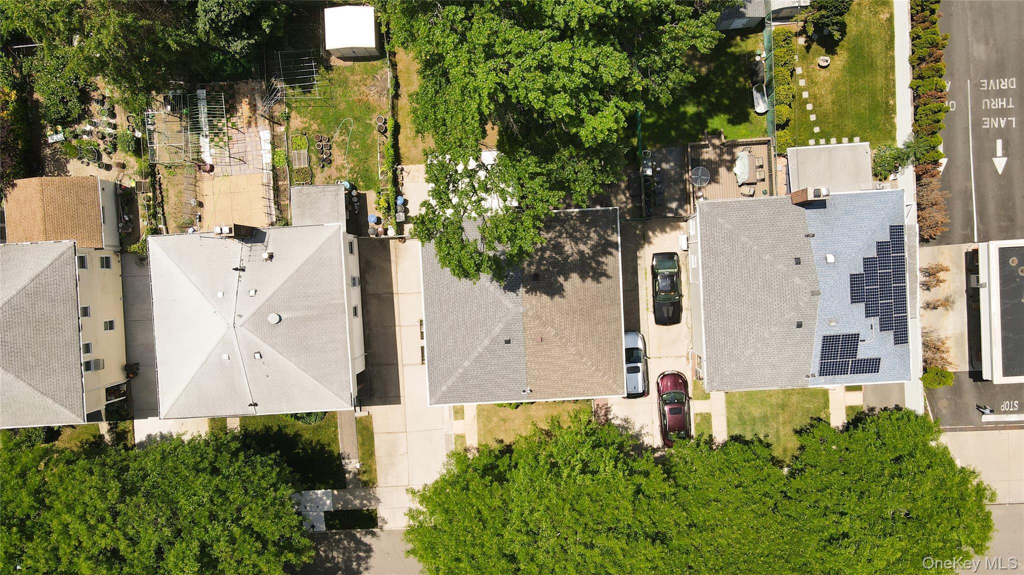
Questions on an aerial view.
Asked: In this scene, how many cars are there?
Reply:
three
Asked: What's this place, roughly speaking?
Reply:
residential area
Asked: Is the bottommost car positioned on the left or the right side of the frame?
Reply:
right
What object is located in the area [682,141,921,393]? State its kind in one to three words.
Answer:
house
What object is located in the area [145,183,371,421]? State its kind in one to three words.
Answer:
house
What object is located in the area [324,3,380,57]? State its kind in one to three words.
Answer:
shed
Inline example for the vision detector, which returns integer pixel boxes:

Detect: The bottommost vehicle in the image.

[655,371,692,447]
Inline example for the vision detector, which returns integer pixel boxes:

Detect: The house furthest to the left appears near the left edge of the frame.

[0,174,129,430]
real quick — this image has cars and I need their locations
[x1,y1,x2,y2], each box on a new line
[655,371,692,447]
[651,252,685,325]
[625,330,654,399]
